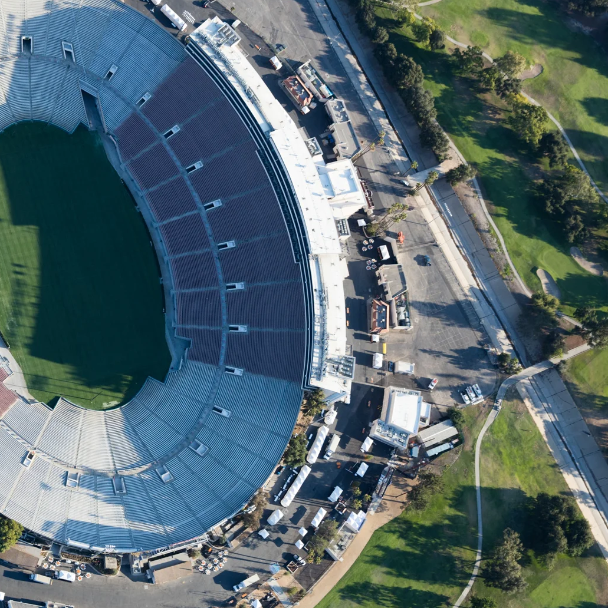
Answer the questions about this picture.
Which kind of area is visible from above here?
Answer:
sports ground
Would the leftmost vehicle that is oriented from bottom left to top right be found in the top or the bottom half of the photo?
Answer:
bottom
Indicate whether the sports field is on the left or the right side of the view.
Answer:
left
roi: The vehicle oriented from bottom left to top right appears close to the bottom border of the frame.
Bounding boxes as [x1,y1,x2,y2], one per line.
[233,572,261,593]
